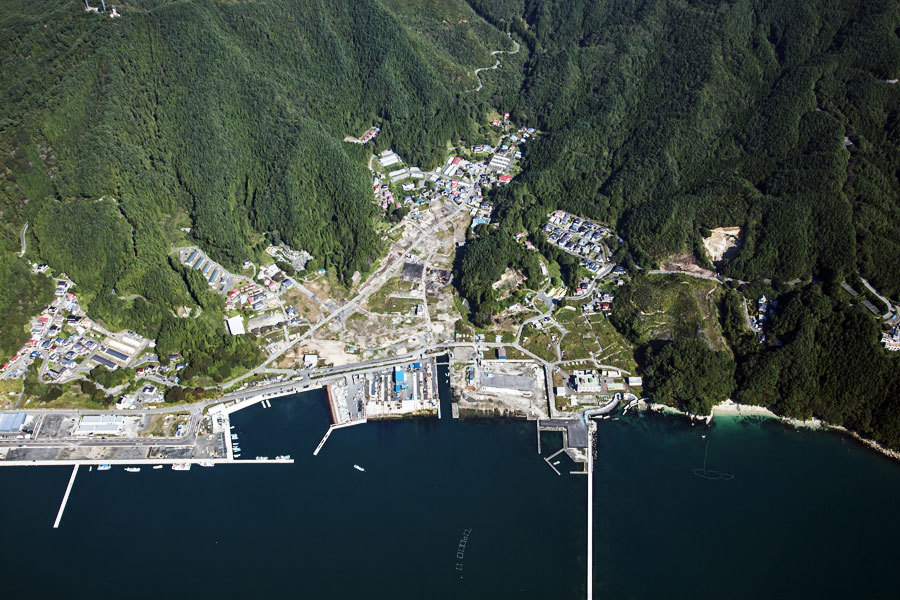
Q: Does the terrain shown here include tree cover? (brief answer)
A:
Yes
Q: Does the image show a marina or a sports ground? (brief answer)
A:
marina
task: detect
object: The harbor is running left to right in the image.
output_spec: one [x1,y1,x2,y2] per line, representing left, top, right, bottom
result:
[0,383,438,465]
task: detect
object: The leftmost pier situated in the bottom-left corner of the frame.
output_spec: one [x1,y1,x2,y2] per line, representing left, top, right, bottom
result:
[54,464,78,529]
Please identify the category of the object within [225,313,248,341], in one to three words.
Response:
building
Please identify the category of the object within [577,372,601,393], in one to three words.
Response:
building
